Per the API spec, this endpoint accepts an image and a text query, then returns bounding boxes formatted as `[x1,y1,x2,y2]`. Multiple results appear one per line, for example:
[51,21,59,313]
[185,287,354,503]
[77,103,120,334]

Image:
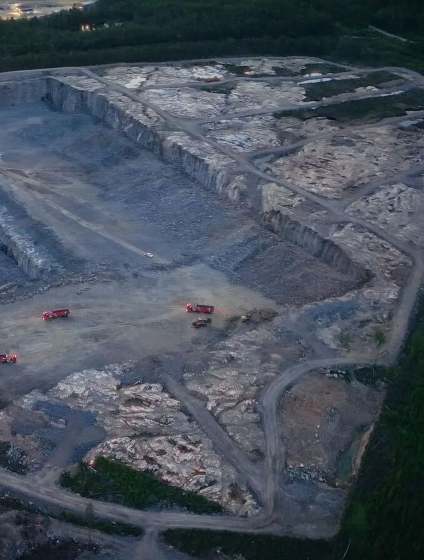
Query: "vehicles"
[0,353,15,363]
[240,310,262,322]
[190,317,210,328]
[144,252,153,258]
[44,308,69,320]
[188,303,214,314]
